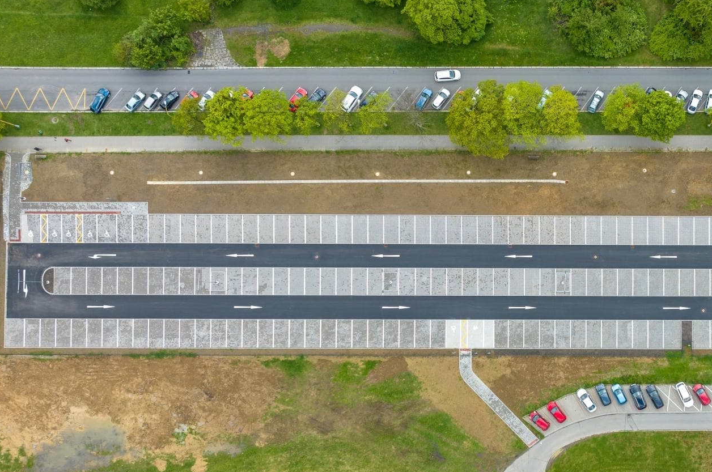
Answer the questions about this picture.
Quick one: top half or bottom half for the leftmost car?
top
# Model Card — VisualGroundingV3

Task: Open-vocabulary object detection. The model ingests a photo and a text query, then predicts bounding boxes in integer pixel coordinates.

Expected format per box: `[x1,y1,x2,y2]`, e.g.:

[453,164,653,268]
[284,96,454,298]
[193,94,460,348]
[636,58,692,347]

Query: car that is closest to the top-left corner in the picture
[88,86,112,115]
